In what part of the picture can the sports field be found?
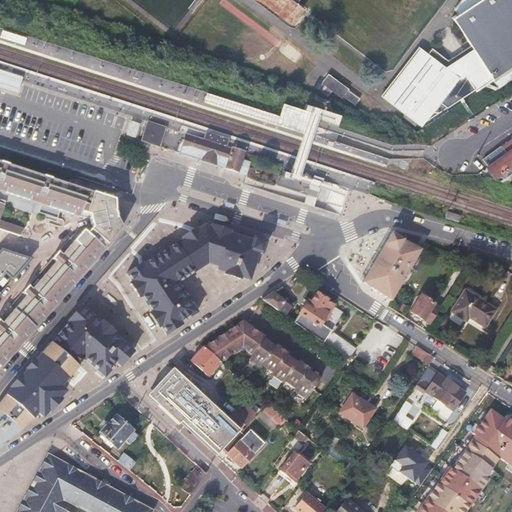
top right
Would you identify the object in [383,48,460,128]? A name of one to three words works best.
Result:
building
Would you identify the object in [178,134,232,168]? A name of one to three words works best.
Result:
building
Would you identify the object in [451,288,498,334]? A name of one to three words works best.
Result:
house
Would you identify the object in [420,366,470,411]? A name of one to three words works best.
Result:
house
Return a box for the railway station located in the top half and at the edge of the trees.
[0,30,392,194]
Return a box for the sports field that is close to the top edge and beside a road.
[310,0,441,71]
